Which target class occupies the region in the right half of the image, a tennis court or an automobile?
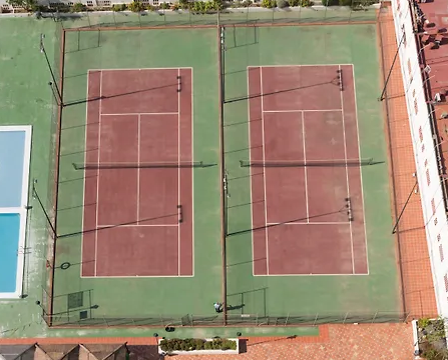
tennis court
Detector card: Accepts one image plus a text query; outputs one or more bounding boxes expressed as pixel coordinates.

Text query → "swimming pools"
[0,126,31,208]
[0,207,27,297]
